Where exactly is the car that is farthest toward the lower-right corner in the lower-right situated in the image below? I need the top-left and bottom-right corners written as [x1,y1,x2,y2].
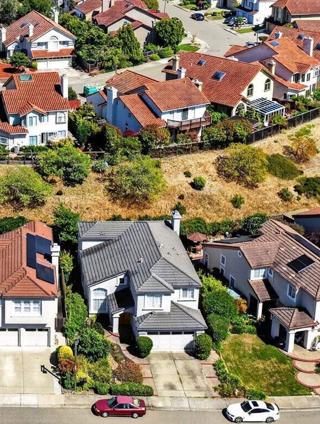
[224,397,284,424]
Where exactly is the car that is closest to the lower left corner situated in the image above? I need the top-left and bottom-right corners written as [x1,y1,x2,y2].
[93,394,148,420]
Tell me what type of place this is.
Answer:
residential area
